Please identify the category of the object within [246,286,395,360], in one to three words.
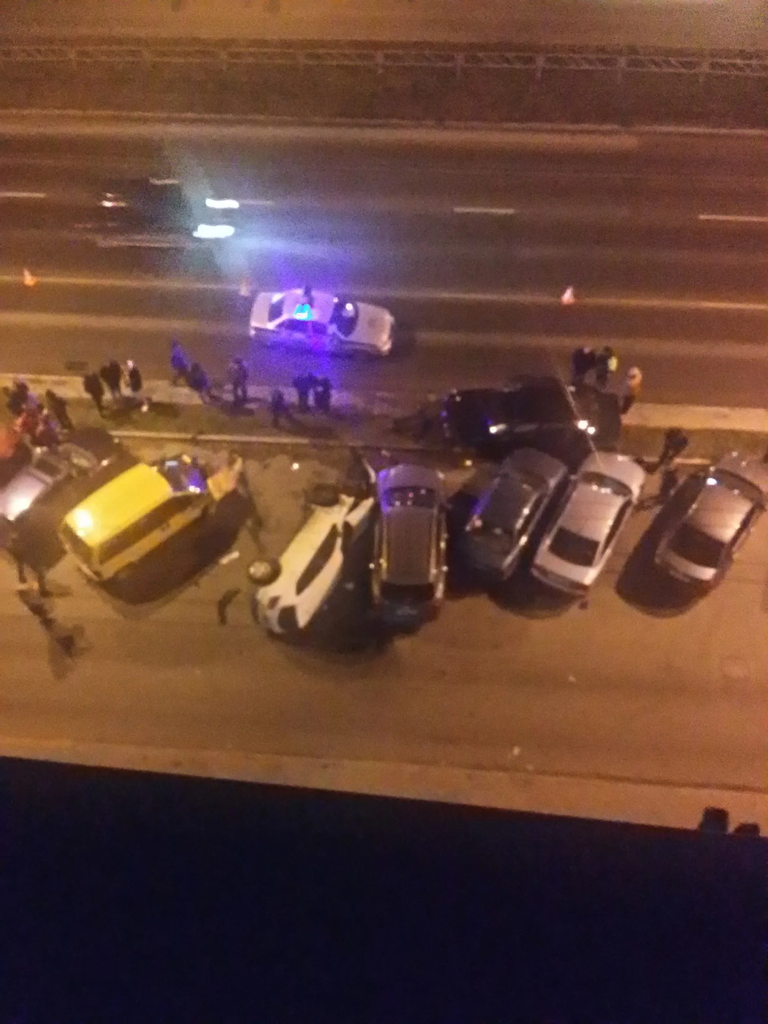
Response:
car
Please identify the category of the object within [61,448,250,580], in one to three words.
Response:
van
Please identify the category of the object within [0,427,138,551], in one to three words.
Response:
car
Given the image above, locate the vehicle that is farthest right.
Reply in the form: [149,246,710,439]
[656,451,768,593]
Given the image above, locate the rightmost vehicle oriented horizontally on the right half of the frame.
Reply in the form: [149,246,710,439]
[437,380,621,468]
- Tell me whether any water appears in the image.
No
